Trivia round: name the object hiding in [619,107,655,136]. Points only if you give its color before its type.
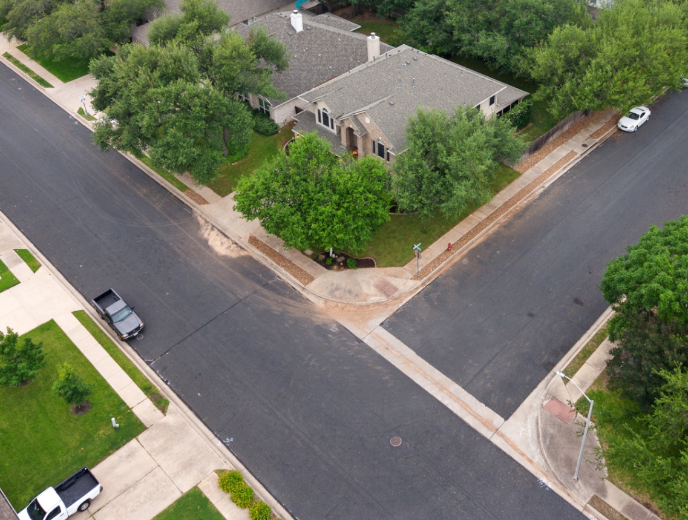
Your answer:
white car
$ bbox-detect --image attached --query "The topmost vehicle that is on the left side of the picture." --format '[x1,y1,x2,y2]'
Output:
[91,285,152,343]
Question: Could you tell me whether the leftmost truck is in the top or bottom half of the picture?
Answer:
bottom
